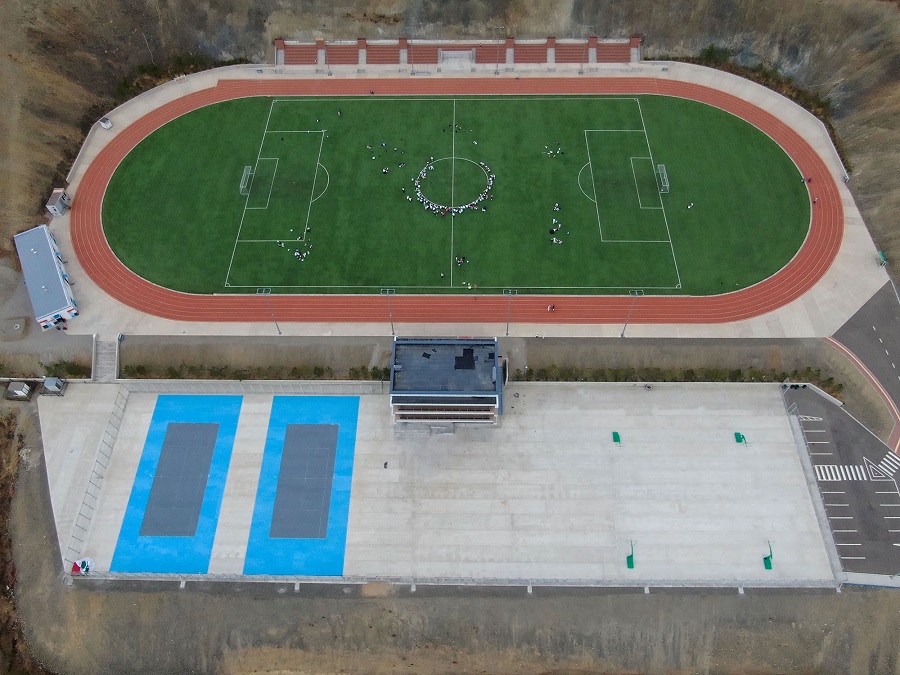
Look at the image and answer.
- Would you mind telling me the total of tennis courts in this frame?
2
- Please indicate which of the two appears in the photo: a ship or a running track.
running track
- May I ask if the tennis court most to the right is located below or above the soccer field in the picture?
below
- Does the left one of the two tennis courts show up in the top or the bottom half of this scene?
bottom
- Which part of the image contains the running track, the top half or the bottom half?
top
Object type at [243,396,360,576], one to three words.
tennis court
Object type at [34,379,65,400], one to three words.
building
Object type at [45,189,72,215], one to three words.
building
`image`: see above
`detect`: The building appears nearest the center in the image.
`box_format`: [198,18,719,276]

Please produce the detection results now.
[389,331,503,440]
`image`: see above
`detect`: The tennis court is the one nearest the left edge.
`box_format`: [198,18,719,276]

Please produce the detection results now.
[110,396,243,573]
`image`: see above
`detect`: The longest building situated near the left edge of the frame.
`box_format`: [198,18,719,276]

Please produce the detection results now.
[12,225,77,325]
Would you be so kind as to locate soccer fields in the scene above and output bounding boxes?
[101,94,811,294]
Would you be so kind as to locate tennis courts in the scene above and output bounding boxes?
[110,396,243,573]
[243,396,360,576]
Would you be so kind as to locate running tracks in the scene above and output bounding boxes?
[69,77,846,323]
